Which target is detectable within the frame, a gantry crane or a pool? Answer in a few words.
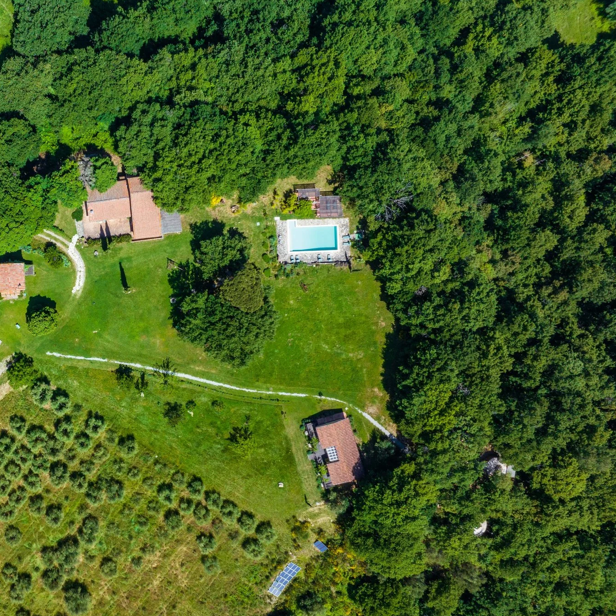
pool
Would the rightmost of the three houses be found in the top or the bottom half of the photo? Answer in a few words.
bottom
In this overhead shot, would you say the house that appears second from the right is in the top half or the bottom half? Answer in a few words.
top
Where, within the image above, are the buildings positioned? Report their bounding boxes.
[75,176,182,241]
[304,411,366,489]
[0,263,34,300]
